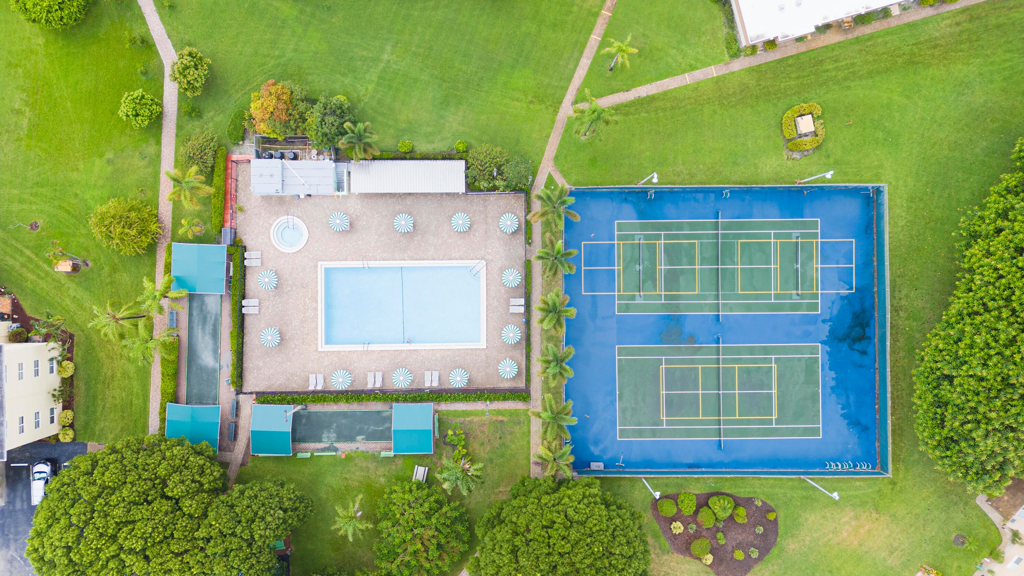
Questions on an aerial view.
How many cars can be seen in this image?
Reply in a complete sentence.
Altogether the scene contains 1 car.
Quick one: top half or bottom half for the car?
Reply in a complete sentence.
Seen from above, the car lies in the bottom half of the view.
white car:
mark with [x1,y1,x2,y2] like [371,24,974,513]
[29,459,54,505]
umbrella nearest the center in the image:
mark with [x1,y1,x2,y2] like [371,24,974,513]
[501,268,521,288]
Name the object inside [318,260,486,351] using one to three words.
swimming pool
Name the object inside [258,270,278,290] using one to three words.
umbrella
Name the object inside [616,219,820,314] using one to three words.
tennis court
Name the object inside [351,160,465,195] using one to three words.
building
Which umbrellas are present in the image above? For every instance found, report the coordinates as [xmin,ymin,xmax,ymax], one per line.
[258,270,278,290]
[499,213,519,234]
[451,212,471,232]
[501,268,521,288]
[498,359,518,379]
[449,368,469,388]
[261,327,281,348]
[501,324,521,345]
[394,213,414,233]
[329,212,350,232]
[392,368,412,388]
[331,369,351,389]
